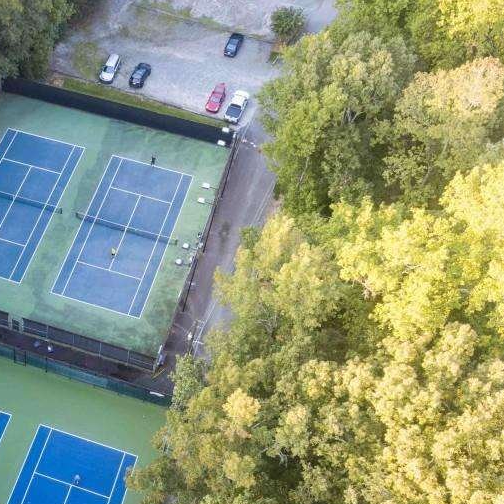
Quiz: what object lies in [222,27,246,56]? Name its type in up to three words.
car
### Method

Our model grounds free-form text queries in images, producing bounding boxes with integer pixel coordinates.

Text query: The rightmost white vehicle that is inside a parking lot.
[224,88,249,120]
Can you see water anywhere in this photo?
No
